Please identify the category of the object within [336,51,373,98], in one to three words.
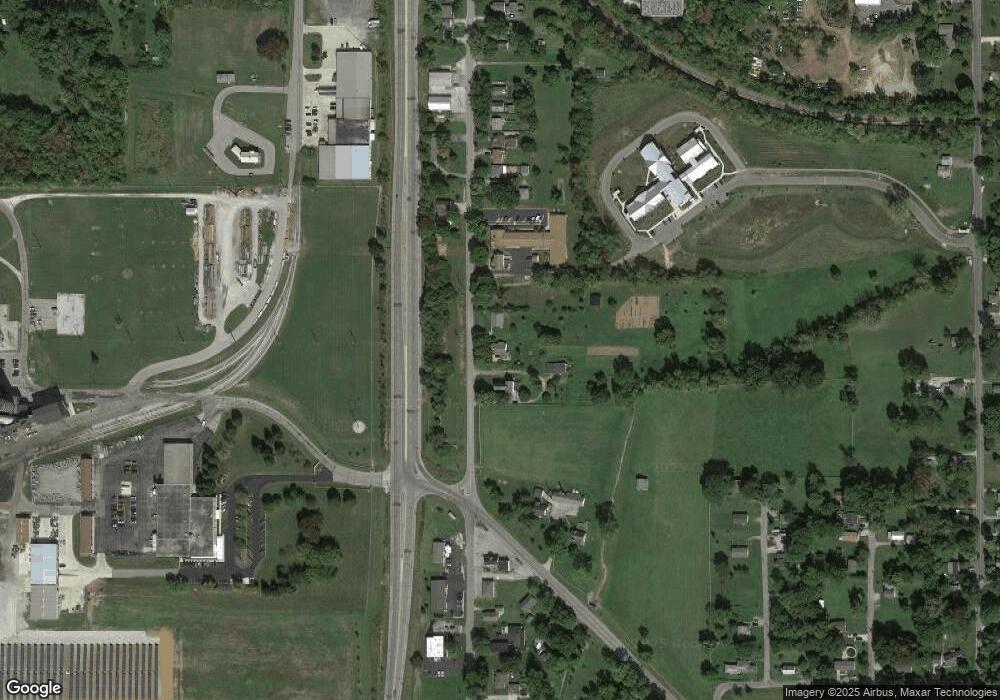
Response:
building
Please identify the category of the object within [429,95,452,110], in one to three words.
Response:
barn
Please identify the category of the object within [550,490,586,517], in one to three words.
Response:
barn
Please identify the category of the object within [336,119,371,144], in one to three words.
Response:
building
